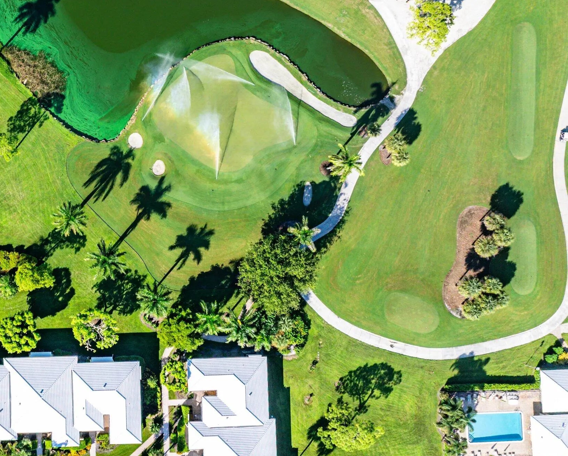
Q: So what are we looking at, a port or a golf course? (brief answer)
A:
golf course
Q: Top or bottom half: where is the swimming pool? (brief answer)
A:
bottom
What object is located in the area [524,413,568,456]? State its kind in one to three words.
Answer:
building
